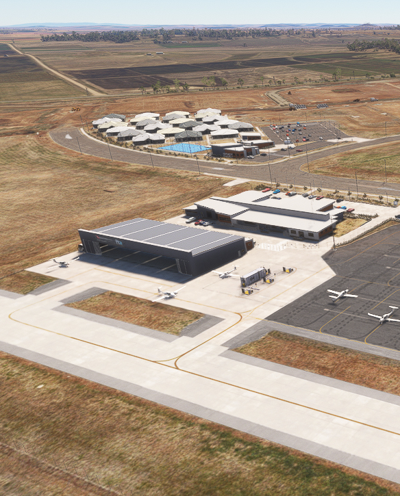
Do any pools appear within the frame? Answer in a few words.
No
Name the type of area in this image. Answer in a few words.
airport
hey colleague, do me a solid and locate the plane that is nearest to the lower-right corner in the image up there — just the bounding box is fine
[369,305,400,324]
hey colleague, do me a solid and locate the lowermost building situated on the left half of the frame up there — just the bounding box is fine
[74,218,244,275]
